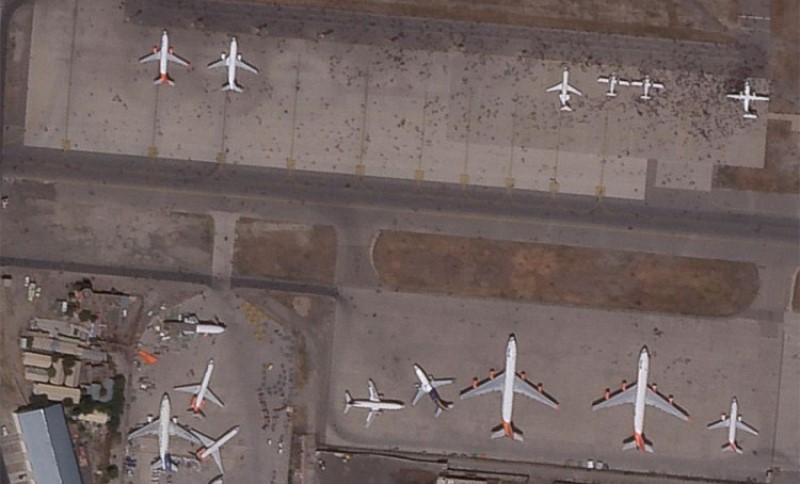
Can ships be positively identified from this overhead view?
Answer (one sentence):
No, there appears to be no ship in this shot.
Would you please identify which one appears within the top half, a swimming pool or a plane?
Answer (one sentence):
The feature located within the top half is a plane.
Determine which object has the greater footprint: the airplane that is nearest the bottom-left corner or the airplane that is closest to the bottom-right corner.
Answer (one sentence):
The airplane that is nearest the bottom-left corner takes up more space than the airplane that is closest to the bottom-right corner does.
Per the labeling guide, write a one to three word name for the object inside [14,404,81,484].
hangar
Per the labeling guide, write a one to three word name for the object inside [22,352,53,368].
house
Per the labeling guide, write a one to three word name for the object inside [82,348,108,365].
house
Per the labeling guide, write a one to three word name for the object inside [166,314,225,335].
airplane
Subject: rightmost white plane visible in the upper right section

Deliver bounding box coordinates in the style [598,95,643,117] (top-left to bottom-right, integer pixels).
[727,82,768,116]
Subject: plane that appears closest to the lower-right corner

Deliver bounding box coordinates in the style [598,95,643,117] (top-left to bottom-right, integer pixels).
[708,397,759,453]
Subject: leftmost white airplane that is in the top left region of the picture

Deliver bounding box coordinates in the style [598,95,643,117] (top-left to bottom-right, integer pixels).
[139,31,190,86]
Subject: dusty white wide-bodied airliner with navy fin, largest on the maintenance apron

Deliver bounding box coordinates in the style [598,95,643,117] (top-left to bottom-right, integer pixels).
[127,393,201,471]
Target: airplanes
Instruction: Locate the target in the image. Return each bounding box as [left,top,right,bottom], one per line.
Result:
[598,73,630,97]
[166,314,225,335]
[414,364,454,417]
[127,393,201,471]
[631,77,664,100]
[189,426,238,474]
[591,346,691,451]
[727,82,768,116]
[175,358,225,419]
[461,334,561,440]
[209,37,257,91]
[212,476,222,484]
[708,397,759,453]
[347,380,405,428]
[546,67,580,108]
[139,31,190,86]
